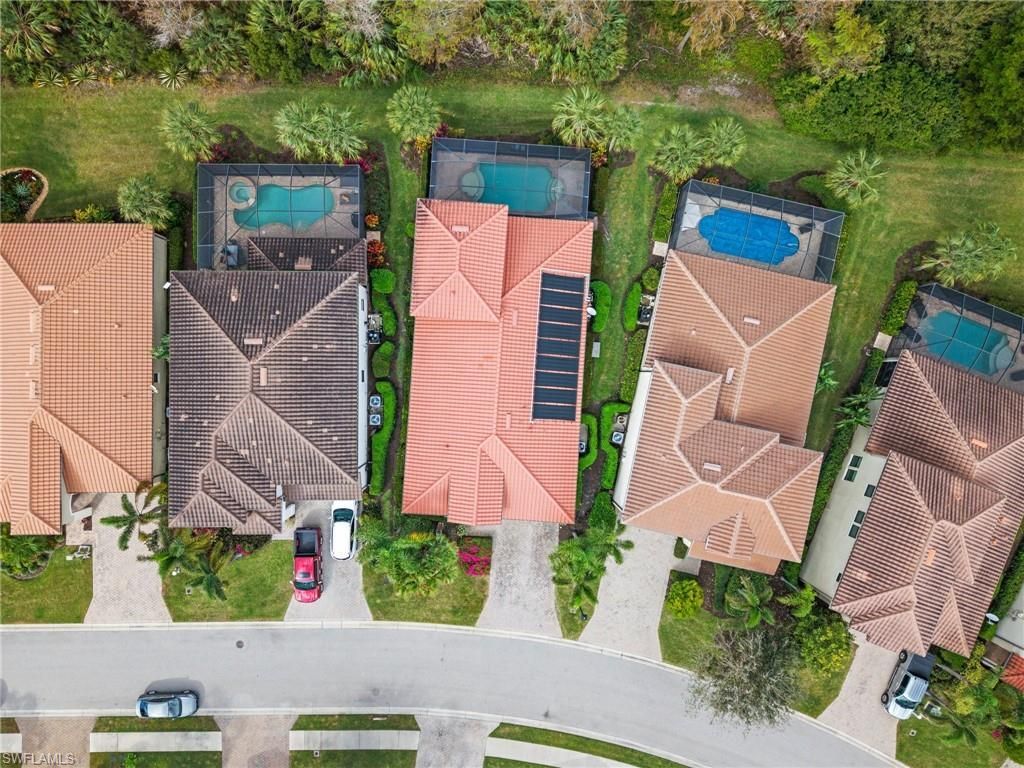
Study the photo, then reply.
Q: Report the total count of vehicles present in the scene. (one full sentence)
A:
The picture shows 4 vehicles.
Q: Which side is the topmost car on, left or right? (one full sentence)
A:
You can find the topmost car on the left side of the picture.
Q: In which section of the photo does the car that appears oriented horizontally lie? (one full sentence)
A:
You can find the car that appears oriented horizontally in the bottom left area of the picture.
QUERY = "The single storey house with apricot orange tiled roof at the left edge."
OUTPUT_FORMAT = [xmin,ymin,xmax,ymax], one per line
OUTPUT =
[0,222,167,537]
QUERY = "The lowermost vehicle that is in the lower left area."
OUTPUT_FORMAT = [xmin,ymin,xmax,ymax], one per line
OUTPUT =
[137,686,202,718]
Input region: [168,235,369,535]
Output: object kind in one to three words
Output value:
house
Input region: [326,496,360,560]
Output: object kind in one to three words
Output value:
car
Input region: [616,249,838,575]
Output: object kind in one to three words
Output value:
house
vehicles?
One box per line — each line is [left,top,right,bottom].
[290,526,323,603]
[137,686,202,718]
[326,496,360,560]
[877,645,946,721]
